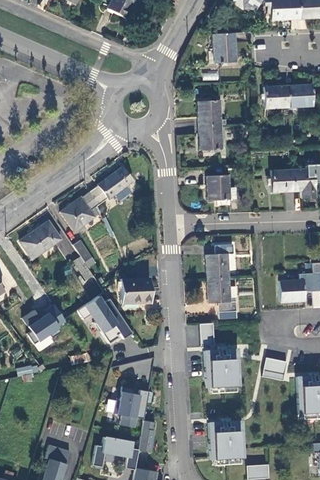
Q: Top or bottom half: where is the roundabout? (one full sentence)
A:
The top half of the photo is where the roundabout is.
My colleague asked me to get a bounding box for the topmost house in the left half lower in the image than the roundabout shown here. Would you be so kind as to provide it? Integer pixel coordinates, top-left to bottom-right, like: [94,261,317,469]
[97,166,134,202]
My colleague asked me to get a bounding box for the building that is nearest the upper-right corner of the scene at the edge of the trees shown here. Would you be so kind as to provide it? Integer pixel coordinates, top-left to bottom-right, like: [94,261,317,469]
[264,0,320,24]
